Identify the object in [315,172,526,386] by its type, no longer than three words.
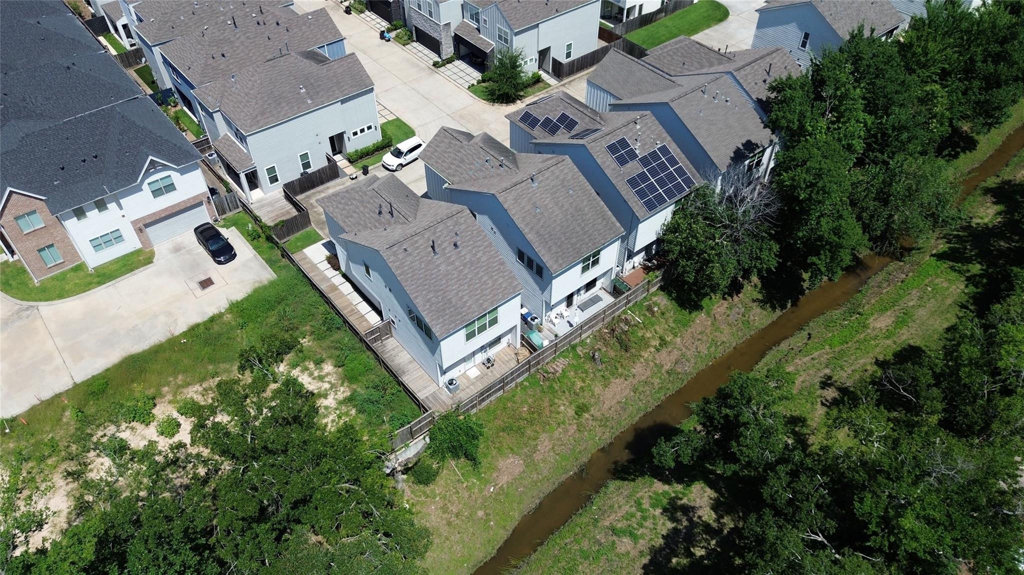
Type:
house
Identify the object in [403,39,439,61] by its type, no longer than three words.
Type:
house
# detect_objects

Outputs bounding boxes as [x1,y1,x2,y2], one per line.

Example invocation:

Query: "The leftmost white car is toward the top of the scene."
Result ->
[381,134,429,171]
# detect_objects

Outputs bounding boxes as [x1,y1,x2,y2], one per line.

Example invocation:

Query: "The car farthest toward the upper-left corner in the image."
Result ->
[191,221,235,265]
